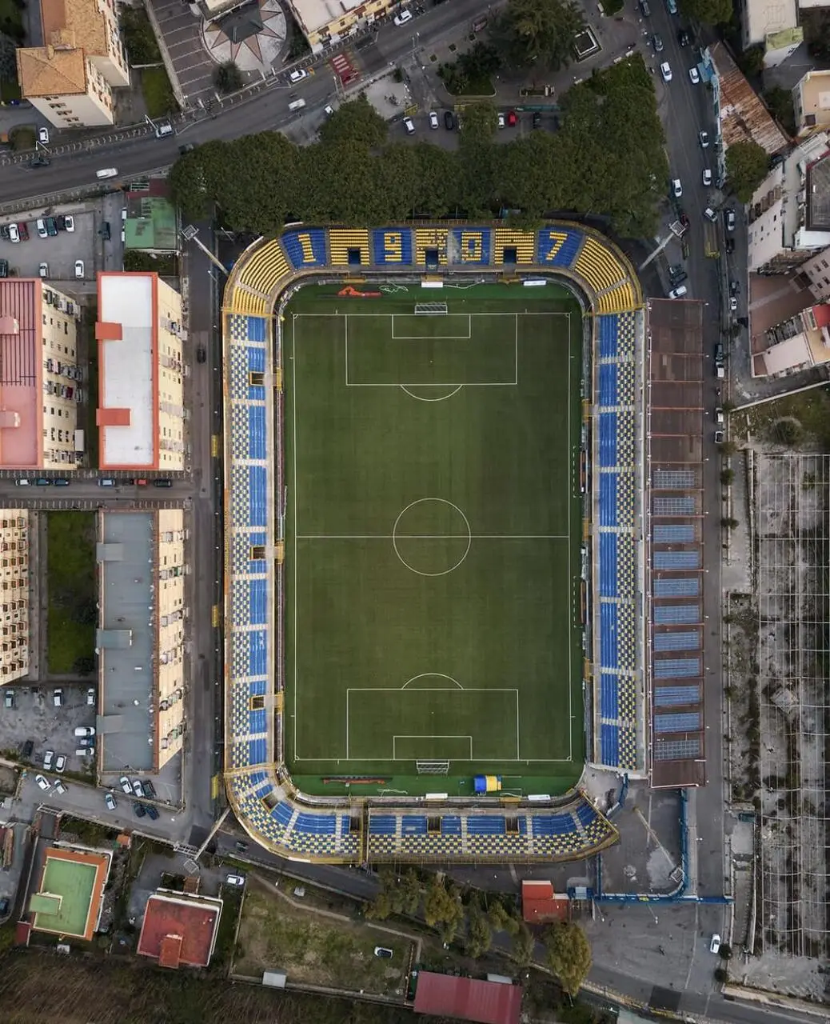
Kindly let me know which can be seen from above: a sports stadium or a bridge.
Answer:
sports stadium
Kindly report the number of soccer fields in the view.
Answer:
1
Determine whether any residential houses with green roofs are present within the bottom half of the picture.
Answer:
Yes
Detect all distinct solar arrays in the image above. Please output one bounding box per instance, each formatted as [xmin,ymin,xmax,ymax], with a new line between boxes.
[654,605,699,623]
[653,631,699,650]
[653,712,700,732]
[654,685,700,705]
[653,658,699,677]
[655,739,700,760]
[654,551,699,569]
[653,525,694,543]
[653,578,699,597]
[652,470,694,488]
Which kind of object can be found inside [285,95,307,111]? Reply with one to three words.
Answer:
vehicle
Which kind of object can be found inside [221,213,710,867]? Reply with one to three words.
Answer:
stadium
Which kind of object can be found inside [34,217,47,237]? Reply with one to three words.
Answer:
vehicle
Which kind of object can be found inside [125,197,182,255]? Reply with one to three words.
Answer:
shed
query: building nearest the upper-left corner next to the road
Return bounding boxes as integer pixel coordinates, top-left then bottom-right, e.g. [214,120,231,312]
[15,0,130,130]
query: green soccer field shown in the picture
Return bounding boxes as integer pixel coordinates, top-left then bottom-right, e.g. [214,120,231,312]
[283,279,587,798]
